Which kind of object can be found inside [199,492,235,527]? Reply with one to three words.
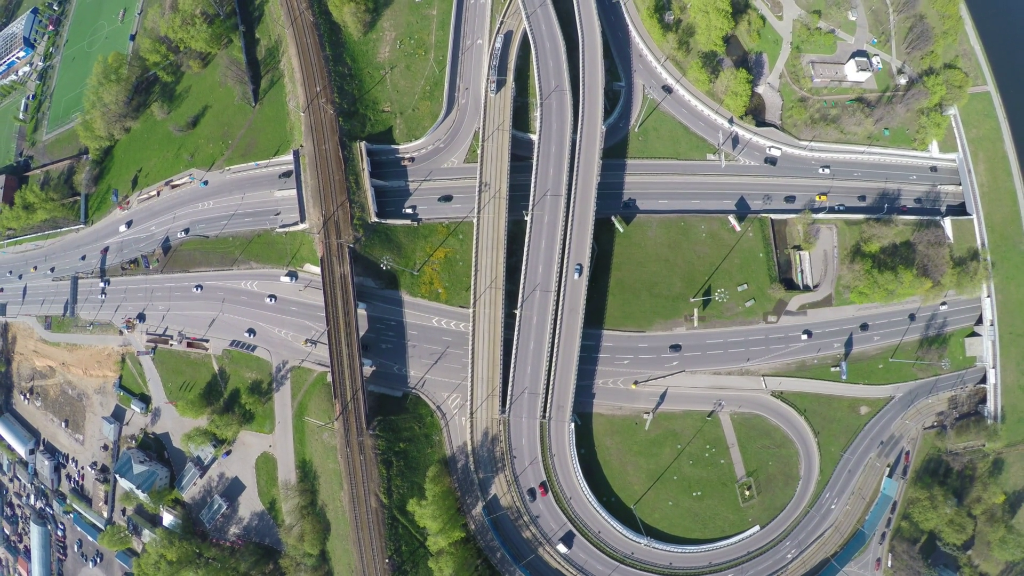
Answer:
building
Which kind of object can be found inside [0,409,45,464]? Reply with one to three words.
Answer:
hangar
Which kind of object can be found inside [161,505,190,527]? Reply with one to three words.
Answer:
shed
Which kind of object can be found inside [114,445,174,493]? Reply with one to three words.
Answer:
house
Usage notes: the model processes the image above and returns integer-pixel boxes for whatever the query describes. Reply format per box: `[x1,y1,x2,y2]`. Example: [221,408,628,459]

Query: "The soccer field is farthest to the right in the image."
[47,0,134,133]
